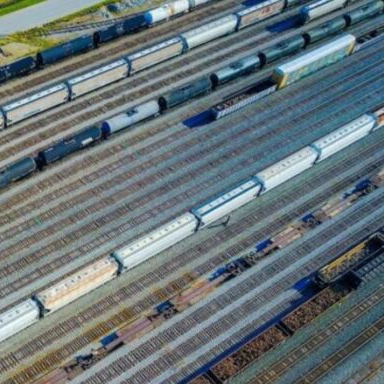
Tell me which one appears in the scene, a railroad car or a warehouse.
railroad car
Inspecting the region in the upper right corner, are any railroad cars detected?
Yes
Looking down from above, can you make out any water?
No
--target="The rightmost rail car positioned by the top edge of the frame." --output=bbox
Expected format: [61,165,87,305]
[348,0,384,28]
